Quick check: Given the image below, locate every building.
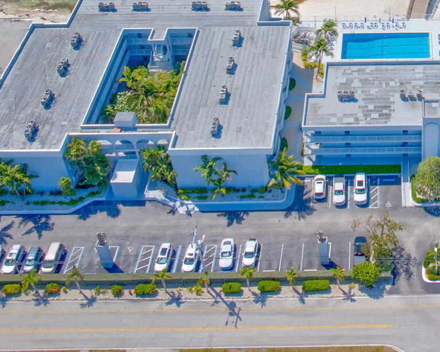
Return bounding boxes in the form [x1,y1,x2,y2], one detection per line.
[301,61,440,166]
[0,0,305,198]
